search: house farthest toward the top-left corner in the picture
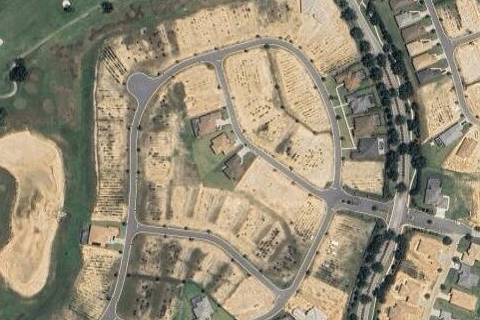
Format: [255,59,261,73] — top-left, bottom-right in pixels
[189,113,219,132]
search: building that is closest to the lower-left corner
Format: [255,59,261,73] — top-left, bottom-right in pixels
[86,227,113,245]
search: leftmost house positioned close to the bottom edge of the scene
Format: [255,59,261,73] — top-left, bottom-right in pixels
[189,294,214,320]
